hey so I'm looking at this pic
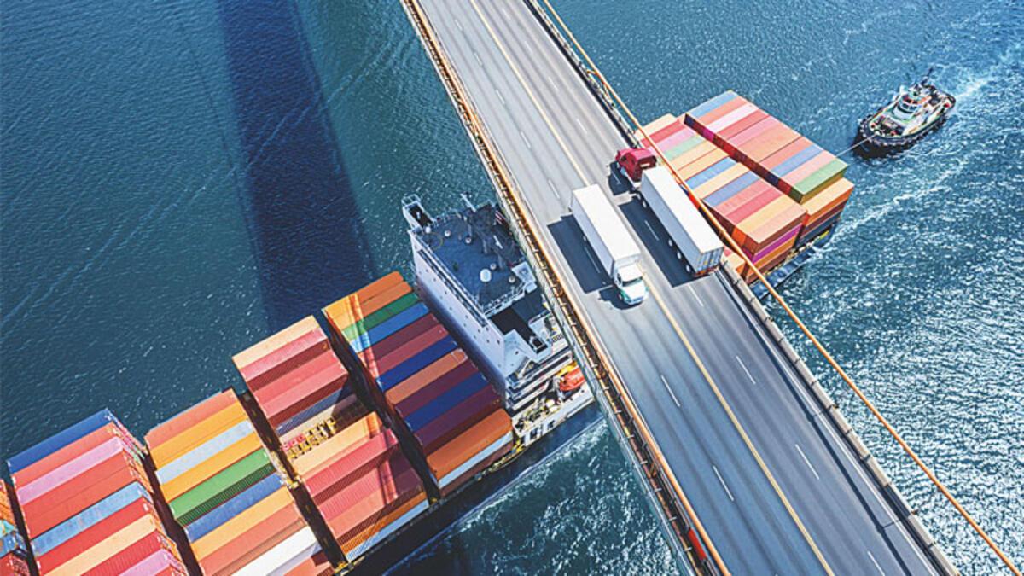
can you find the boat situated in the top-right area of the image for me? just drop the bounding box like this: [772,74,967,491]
[858,62,963,160]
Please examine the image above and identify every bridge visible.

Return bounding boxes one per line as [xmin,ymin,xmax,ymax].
[395,0,1022,576]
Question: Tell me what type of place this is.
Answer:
port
